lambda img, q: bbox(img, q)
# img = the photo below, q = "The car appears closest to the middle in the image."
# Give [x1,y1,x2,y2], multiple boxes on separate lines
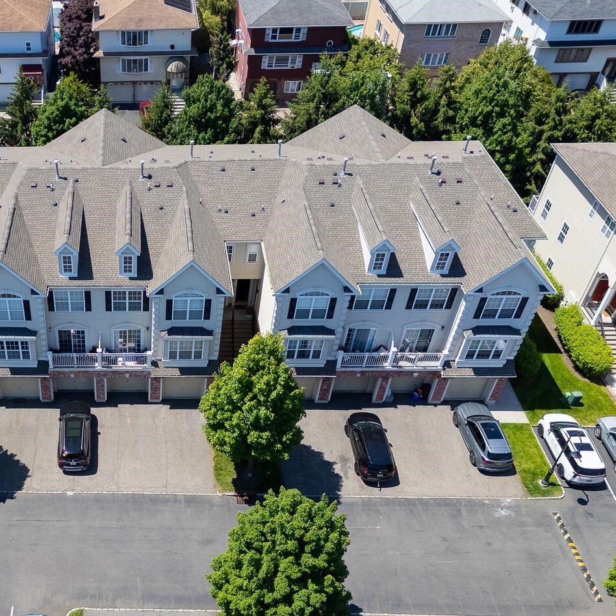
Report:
[344,412,397,484]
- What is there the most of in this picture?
buildings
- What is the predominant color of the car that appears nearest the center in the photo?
black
